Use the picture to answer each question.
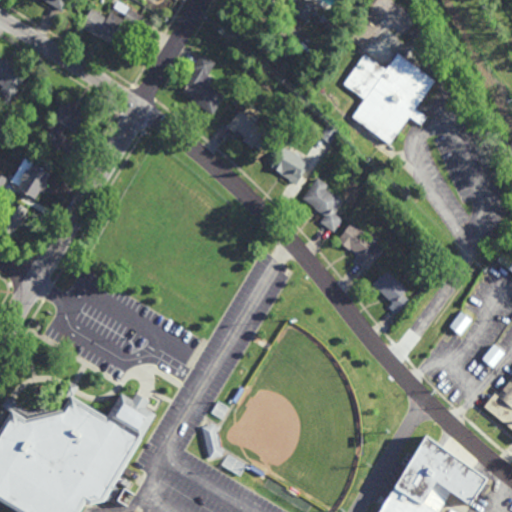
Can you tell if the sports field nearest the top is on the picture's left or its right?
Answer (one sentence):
The sports field nearest the top appears in the left half of the scene.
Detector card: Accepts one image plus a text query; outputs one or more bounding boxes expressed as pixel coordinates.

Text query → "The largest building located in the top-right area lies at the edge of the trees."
[343,55,434,145]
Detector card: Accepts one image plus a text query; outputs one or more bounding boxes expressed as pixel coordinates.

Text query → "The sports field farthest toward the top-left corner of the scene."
[90,153,262,338]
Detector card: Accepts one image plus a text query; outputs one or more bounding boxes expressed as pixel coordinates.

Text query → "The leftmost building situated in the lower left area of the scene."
[0,395,156,512]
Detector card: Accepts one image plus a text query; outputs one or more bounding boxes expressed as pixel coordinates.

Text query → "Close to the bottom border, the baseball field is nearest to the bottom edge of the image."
[220,322,362,512]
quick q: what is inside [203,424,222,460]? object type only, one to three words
building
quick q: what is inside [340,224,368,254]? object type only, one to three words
house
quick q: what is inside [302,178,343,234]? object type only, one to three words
house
